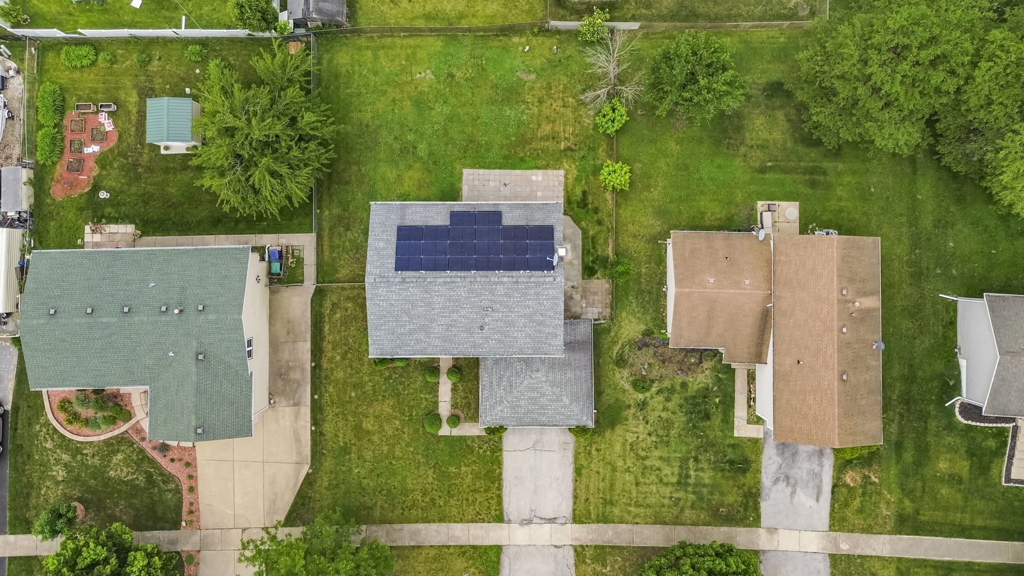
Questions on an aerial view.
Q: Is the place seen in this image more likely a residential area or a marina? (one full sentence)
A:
What you see here is a residential area.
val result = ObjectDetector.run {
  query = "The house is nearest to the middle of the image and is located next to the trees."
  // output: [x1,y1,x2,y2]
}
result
[365,200,605,429]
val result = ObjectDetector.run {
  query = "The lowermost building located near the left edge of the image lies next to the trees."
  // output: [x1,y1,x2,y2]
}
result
[19,244,270,443]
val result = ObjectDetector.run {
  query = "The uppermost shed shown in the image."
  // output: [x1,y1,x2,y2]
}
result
[287,0,346,28]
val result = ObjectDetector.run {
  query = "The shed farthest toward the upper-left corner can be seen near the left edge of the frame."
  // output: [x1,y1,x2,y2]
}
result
[0,165,34,211]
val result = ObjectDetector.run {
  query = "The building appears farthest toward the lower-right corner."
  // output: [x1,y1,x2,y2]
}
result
[940,292,1024,418]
